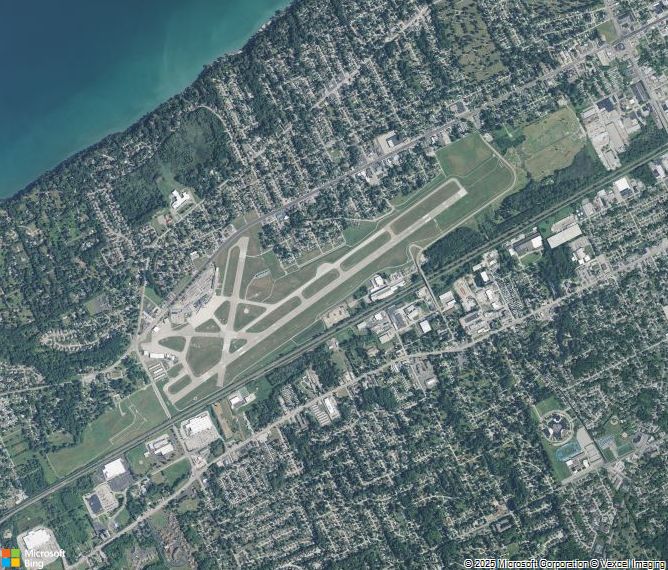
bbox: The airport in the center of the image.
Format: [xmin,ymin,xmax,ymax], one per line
[139,130,514,416]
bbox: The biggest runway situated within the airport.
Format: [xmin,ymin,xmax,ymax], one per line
[169,191,463,404]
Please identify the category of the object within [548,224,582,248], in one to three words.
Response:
building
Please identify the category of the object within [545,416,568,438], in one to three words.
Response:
building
